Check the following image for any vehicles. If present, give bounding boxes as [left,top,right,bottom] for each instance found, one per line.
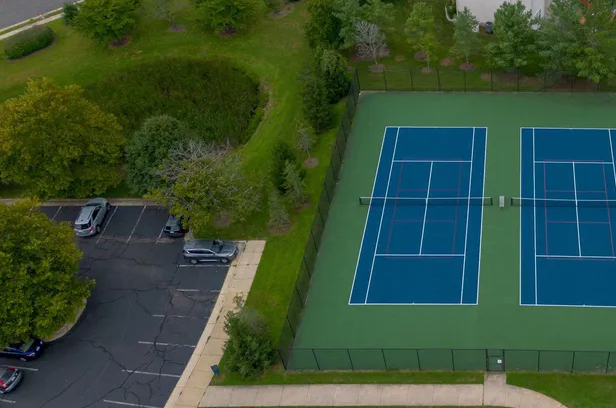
[0,330,49,358]
[0,364,28,393]
[181,234,239,261]
[159,204,188,235]
[69,196,111,238]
